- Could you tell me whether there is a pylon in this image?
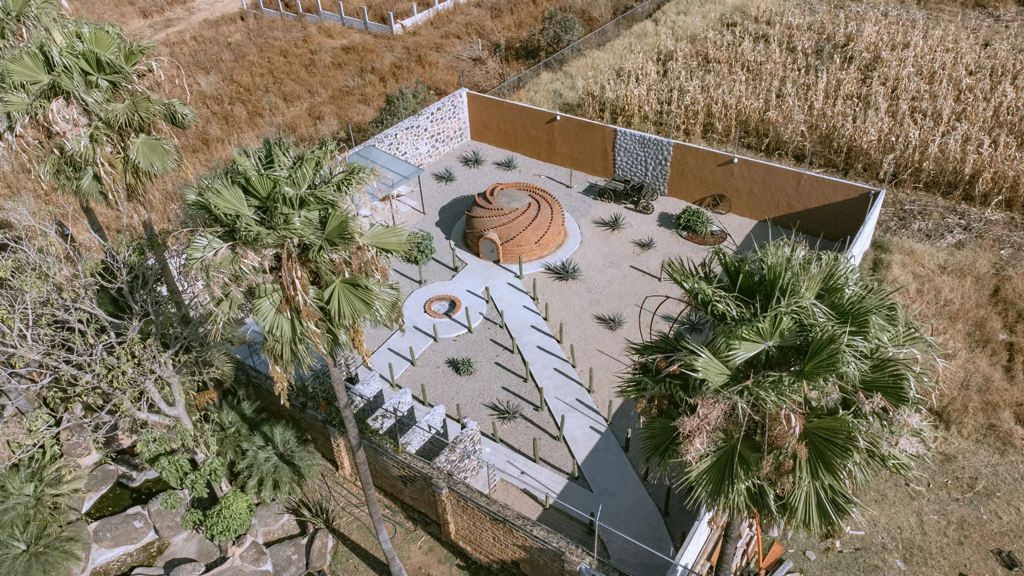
No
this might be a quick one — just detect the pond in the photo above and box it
[0,375,331,576]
